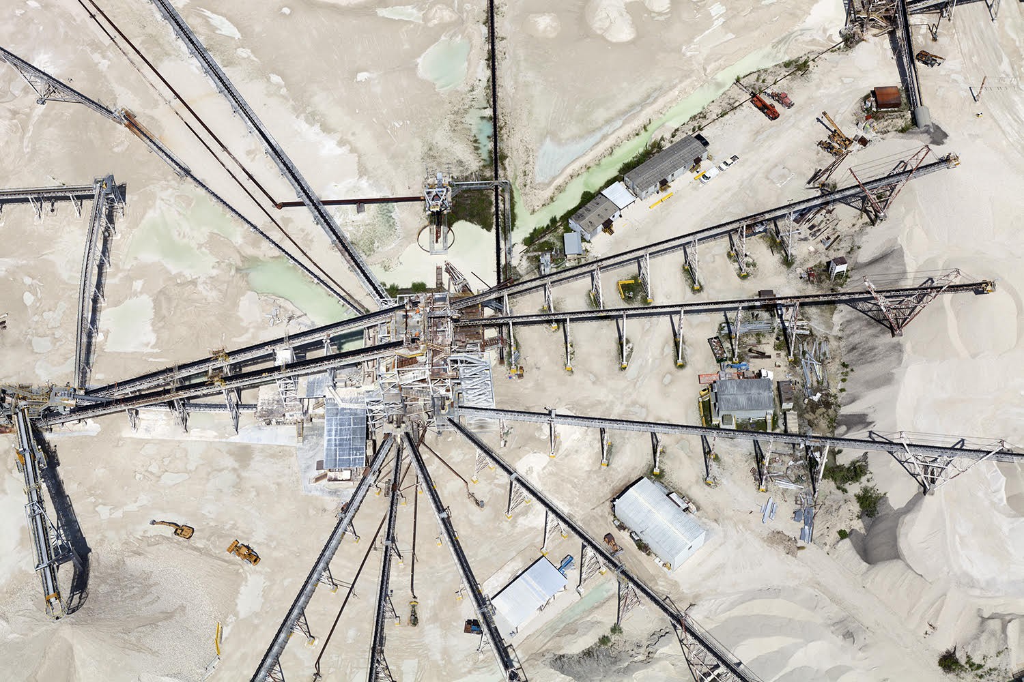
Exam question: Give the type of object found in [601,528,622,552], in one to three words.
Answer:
work vehicle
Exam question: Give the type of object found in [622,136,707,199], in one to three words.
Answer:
building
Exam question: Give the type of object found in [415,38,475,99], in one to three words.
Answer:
pond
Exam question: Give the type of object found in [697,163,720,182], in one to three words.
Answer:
car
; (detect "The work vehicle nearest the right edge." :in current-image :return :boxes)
[818,135,845,158]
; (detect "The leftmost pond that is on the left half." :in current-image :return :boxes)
[243,254,366,359]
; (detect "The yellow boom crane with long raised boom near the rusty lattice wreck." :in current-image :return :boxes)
[821,109,858,149]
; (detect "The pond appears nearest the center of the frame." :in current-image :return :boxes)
[377,219,499,294]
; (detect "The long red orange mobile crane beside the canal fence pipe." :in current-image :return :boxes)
[736,75,783,117]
